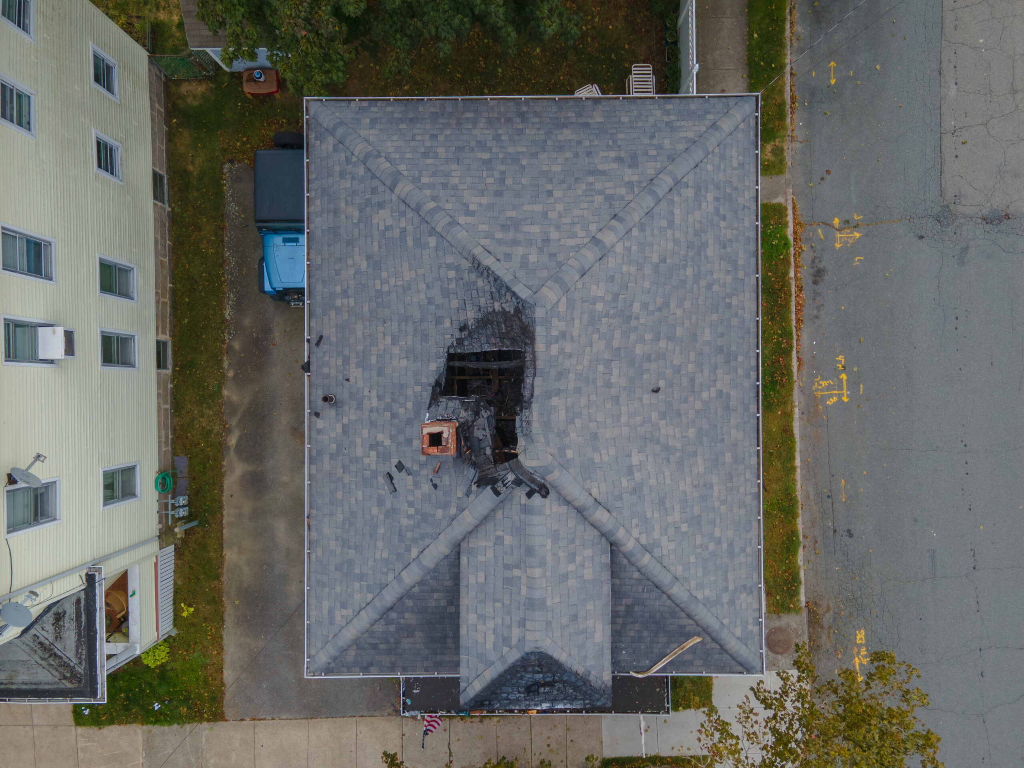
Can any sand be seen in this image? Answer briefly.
No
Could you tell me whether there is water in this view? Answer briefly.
No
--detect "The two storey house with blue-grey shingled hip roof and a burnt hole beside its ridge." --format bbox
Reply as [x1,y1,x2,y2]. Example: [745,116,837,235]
[304,95,762,715]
